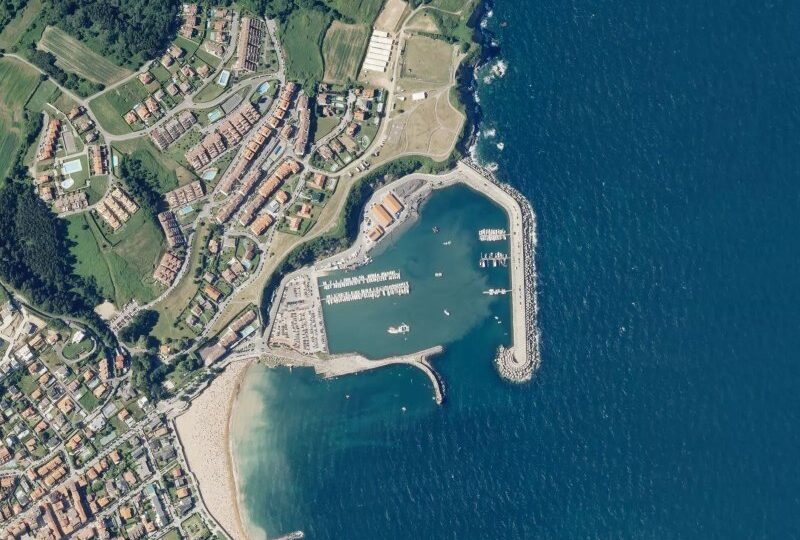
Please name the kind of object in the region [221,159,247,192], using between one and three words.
building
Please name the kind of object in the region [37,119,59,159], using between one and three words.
building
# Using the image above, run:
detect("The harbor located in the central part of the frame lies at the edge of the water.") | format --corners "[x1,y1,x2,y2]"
[255,161,460,367]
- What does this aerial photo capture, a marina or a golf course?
marina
